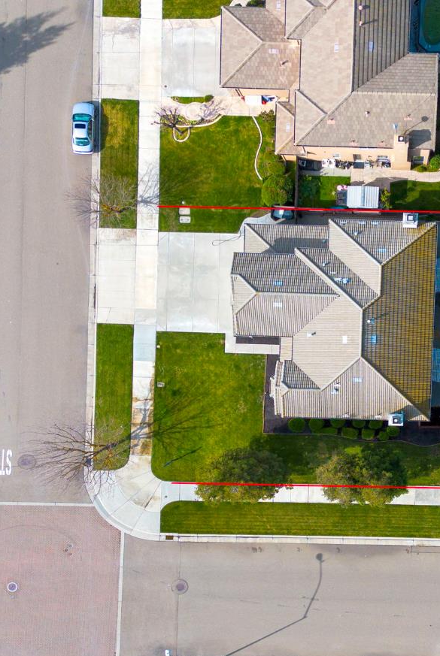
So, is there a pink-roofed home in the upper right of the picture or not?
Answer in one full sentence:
No, there is no pink-roofed home in the upper right of the picture.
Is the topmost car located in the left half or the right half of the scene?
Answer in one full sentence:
You can find the topmost car on the left side of the picture.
